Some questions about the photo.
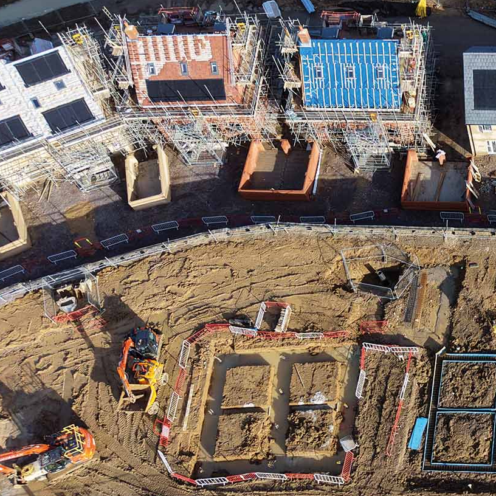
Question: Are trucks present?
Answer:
Yes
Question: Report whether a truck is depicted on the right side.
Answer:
No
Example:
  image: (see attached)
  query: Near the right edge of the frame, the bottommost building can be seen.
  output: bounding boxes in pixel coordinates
[400,149,488,218]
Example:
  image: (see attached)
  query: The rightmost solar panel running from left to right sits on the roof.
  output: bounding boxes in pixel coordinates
[152,78,221,99]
